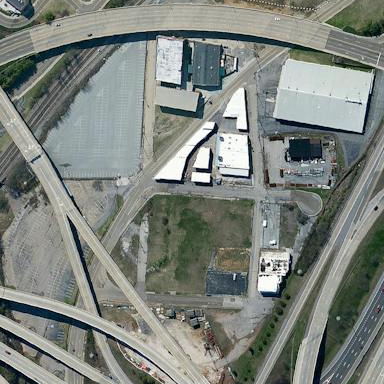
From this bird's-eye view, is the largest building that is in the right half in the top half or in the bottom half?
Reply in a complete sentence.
It is in the top half that the largest building that is in the right half appears.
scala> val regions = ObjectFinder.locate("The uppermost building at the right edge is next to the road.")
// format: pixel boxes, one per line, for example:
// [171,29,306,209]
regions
[274,56,374,135]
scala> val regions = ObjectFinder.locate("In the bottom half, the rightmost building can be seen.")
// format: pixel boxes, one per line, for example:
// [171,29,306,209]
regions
[258,250,290,293]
